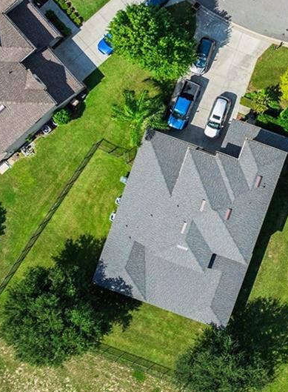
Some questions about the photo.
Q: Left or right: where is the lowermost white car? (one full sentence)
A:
It is on the right.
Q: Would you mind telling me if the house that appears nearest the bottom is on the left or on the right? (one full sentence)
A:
You can find the house that appears nearest the bottom on the right side of the picture.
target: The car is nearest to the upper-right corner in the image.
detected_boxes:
[191,32,219,77]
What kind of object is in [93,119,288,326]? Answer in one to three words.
house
